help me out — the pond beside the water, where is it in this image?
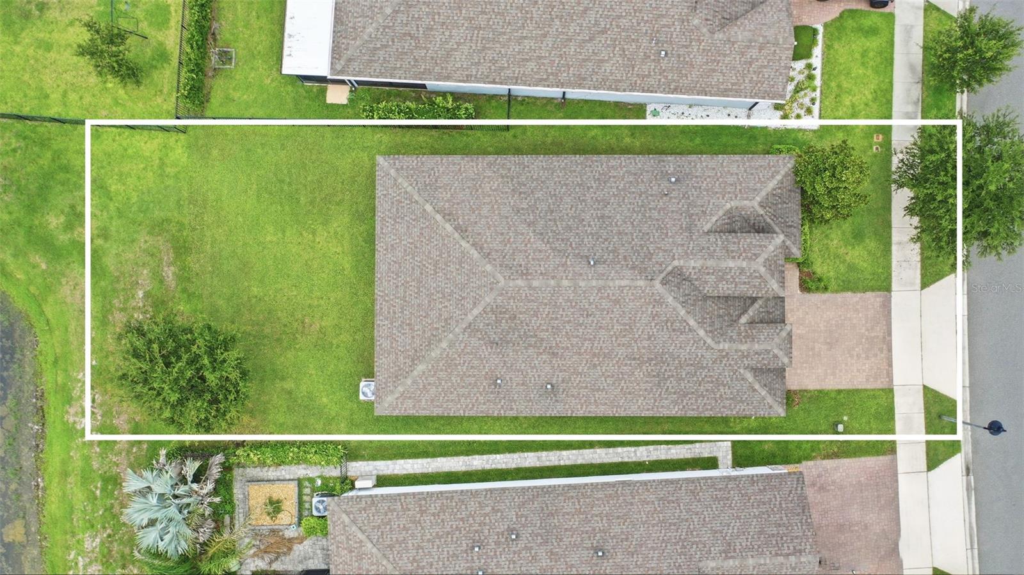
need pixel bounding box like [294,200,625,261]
[0,294,45,575]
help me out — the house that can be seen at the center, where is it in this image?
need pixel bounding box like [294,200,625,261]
[375,155,801,416]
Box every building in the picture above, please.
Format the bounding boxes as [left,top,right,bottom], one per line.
[330,0,799,116]
[327,465,821,575]
[375,155,801,416]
